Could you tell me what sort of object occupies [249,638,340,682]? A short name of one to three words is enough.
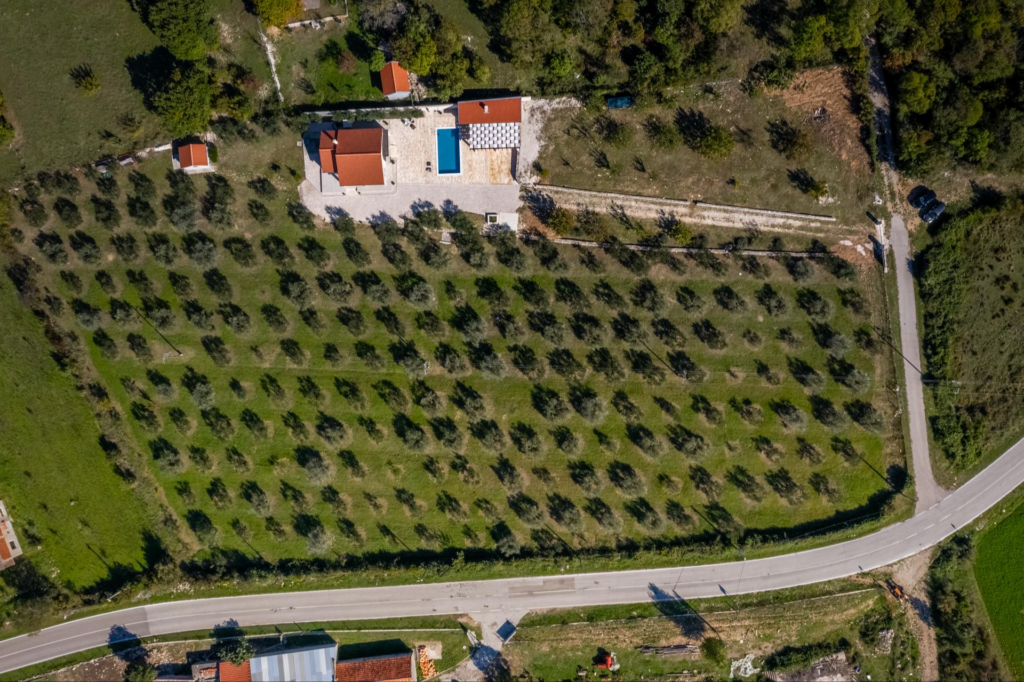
barn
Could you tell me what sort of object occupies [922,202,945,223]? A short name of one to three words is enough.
car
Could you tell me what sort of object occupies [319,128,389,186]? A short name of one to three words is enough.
house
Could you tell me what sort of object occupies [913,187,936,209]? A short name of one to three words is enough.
car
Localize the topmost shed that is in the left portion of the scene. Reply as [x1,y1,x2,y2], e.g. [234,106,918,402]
[380,61,410,97]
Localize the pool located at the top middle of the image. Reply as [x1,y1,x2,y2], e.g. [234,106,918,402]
[432,124,462,177]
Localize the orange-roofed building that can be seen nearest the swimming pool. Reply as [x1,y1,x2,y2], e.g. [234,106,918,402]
[458,97,522,126]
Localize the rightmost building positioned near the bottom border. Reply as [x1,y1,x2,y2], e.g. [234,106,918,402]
[338,650,417,682]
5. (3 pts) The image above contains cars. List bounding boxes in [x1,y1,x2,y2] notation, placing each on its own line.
[922,202,945,223]
[913,187,936,209]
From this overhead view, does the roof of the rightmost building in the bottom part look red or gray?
red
